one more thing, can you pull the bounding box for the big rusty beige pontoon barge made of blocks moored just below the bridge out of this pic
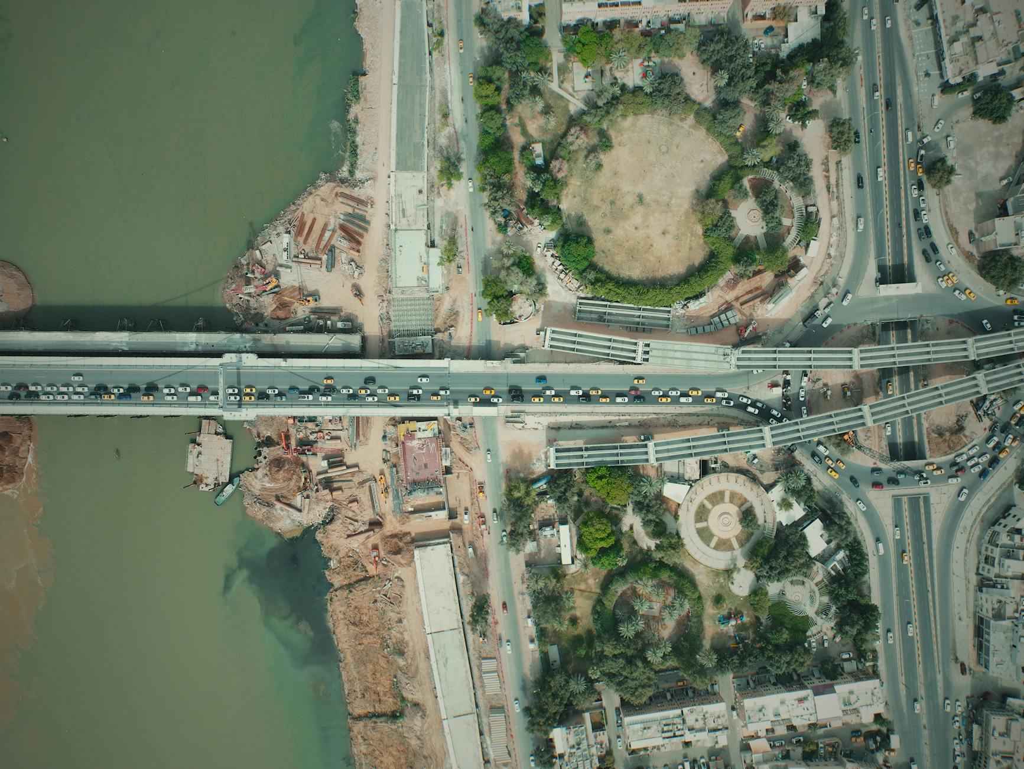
[183,419,234,490]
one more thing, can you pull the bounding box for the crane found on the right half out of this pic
[840,429,930,484]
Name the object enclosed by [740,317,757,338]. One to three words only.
vehicle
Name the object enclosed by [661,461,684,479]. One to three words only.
shed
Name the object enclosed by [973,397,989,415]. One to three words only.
work vehicle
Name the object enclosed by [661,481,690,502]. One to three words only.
building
